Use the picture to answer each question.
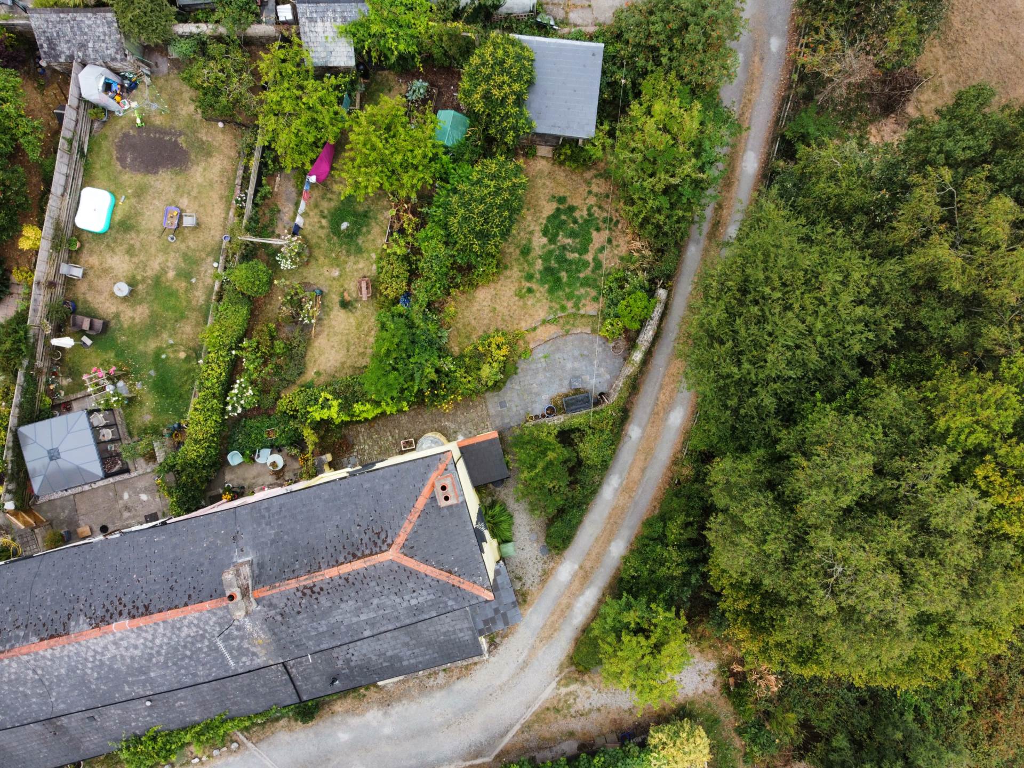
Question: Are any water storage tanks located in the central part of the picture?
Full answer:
No, I see no water storage tank in the central part of the picture.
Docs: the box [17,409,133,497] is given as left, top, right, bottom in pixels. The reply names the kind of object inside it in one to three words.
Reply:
gazebo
